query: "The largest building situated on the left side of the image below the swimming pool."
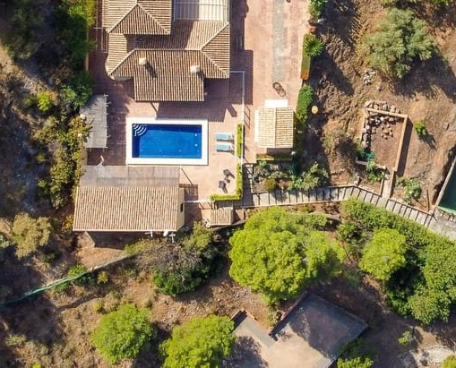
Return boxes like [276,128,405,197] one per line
[71,164,184,242]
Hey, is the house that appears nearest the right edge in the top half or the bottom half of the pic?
bottom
